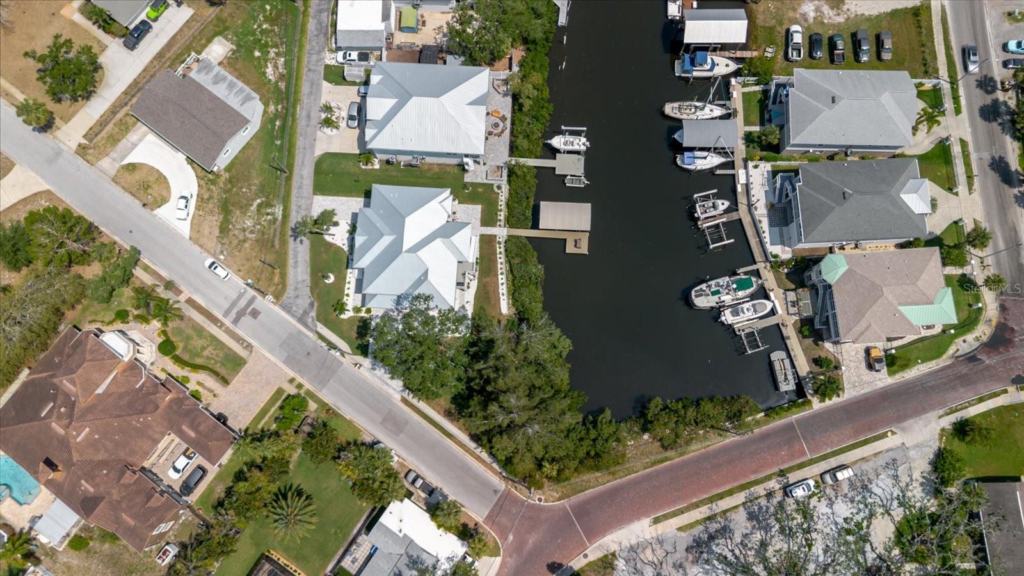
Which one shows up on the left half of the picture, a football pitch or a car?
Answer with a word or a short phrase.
car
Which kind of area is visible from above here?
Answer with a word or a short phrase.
residential area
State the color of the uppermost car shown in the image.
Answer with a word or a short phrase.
green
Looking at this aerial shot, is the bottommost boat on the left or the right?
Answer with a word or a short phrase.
left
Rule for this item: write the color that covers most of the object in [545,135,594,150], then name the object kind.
white boat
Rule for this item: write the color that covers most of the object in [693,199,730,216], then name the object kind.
white boat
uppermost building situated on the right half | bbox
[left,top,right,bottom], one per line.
[677,9,748,57]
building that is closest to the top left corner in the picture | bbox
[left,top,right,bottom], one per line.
[93,0,153,29]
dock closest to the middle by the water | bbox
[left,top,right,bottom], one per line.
[481,227,590,257]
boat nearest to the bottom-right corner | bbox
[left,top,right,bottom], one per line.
[768,351,795,396]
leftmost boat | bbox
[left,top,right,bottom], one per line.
[153,543,180,566]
